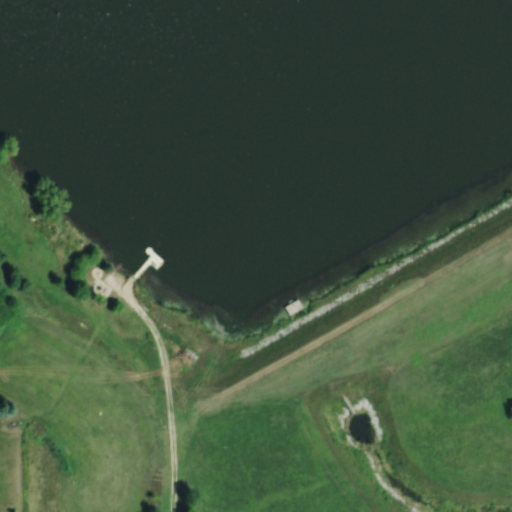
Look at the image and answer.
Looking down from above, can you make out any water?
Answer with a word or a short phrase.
Yes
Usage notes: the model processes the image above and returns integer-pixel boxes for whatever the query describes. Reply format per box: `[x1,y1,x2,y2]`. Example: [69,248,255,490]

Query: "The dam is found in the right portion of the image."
[175,196,512,414]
